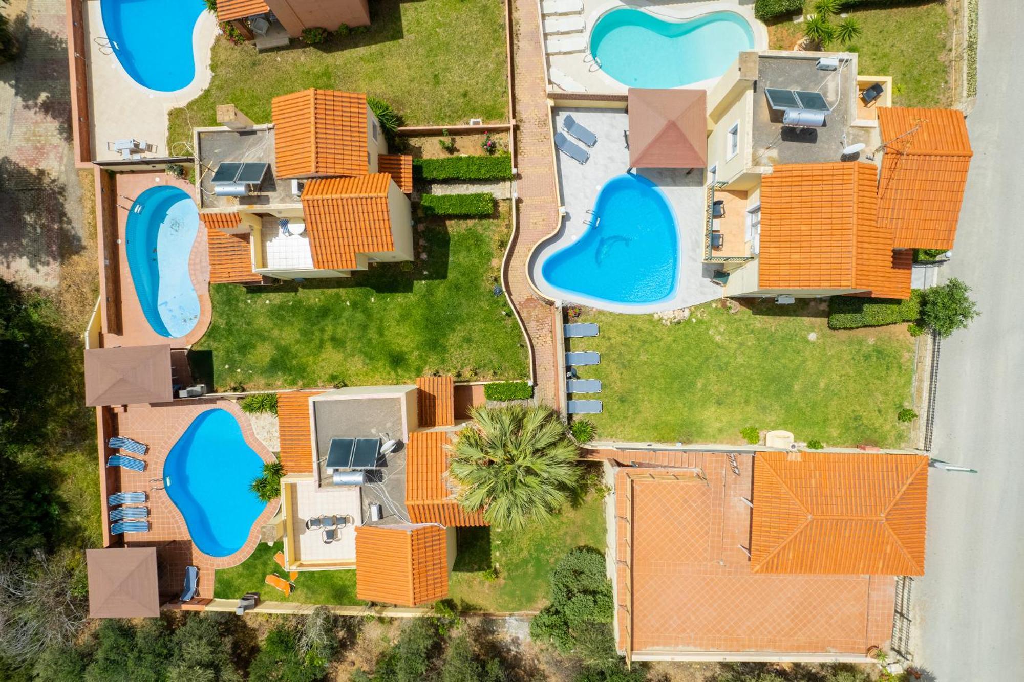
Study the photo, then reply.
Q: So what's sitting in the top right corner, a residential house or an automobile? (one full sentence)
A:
You can see a residential house in the top right corner.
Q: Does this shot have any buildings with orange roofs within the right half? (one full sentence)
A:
Yes, a building with an orange roof is visible within the right half.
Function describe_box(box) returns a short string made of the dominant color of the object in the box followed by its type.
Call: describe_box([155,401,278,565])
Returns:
blue swimming pool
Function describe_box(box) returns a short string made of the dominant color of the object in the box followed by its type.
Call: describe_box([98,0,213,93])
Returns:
blue swimming pool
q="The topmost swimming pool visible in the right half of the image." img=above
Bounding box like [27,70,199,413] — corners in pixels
[588,5,757,89]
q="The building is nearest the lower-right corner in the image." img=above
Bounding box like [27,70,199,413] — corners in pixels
[739,451,925,577]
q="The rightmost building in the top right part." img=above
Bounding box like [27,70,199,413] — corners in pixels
[702,49,978,300]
